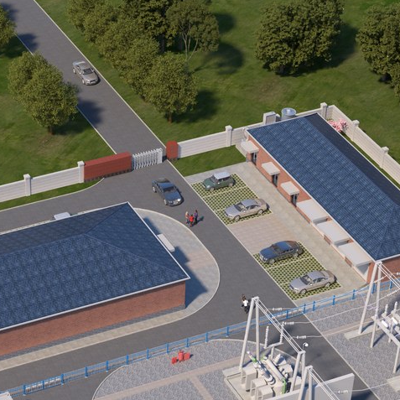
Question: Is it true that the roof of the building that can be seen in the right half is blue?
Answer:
Yes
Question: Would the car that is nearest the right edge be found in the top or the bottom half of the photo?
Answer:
bottom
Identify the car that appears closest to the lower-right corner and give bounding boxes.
[287,265,337,291]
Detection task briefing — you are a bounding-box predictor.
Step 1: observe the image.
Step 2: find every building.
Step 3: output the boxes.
[236,112,400,287]
[0,202,191,359]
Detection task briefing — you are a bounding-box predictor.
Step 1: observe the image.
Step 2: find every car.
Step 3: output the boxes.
[72,59,99,84]
[145,176,182,206]
[258,236,307,263]
[287,265,337,291]
[222,194,270,218]
[202,164,241,190]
